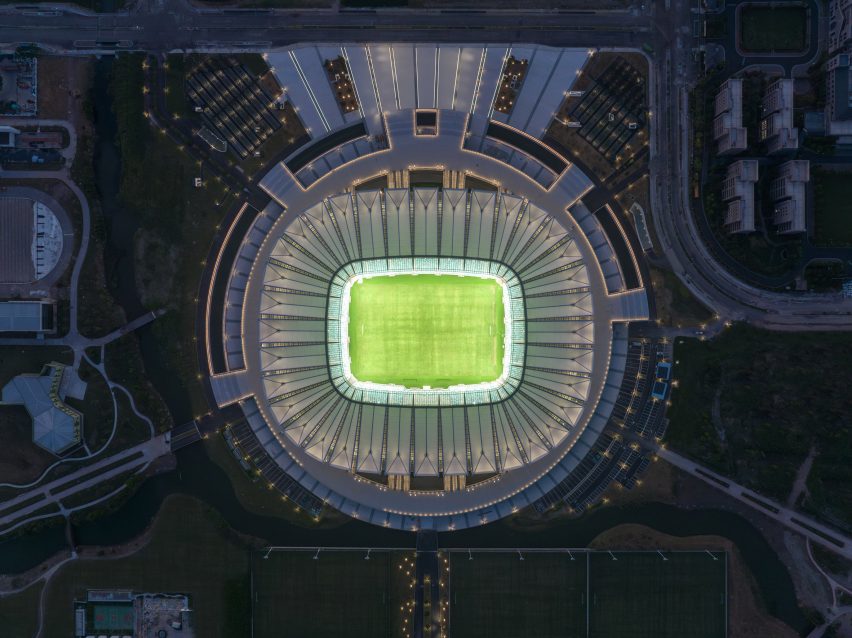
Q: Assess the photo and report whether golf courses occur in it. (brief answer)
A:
No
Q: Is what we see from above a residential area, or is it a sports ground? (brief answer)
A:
sports ground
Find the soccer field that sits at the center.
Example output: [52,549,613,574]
[344,270,508,391]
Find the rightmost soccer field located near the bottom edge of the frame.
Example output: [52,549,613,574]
[589,550,727,638]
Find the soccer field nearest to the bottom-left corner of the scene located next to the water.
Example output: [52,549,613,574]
[252,550,390,638]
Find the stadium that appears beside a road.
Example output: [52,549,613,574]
[205,109,648,532]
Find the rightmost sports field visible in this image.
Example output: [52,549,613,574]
[806,172,852,246]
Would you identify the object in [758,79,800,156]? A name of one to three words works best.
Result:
building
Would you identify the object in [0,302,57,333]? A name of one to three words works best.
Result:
building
